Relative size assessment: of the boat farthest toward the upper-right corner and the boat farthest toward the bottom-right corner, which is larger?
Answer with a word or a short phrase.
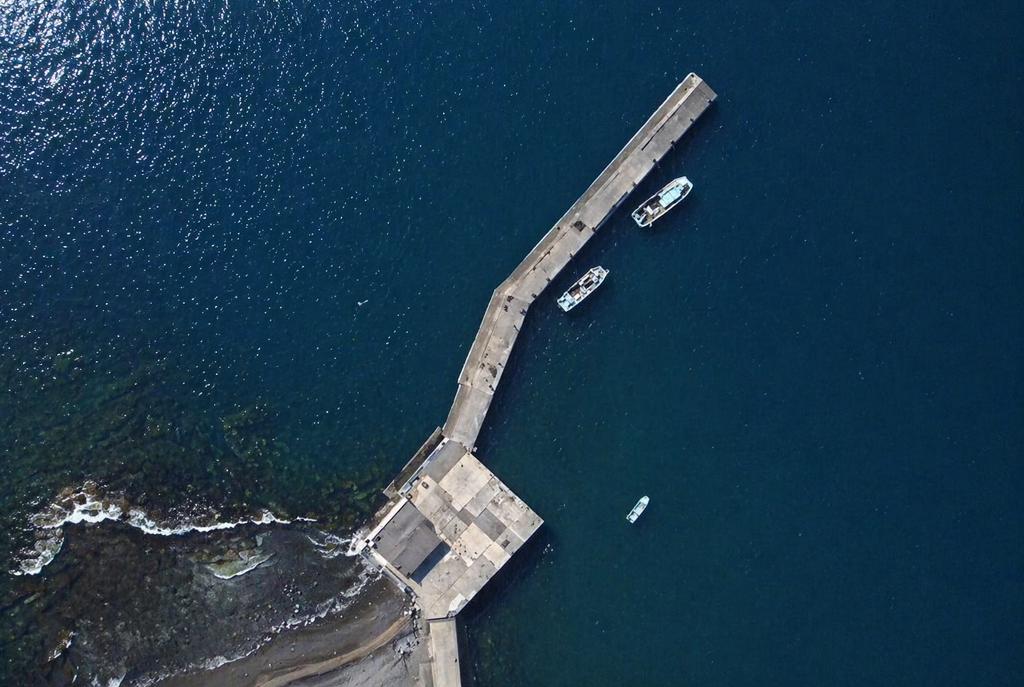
the boat farthest toward the upper-right corner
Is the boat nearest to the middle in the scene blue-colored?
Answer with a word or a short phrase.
No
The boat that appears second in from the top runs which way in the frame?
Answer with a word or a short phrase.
on a diagonal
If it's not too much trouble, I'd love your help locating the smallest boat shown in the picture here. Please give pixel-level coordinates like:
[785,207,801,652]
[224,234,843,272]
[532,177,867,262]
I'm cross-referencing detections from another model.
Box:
[626,496,650,523]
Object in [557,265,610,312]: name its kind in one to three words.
boat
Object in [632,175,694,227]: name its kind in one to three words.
boat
